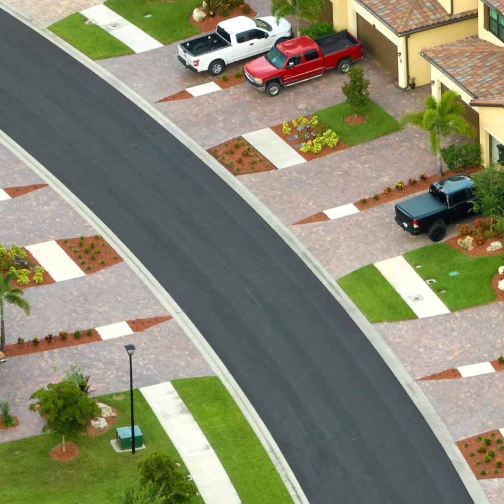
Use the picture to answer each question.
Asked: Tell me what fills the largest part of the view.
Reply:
paved ground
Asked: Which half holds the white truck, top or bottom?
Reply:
top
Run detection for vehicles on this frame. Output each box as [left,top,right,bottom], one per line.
[176,16,294,75]
[394,175,504,241]
[239,30,366,97]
